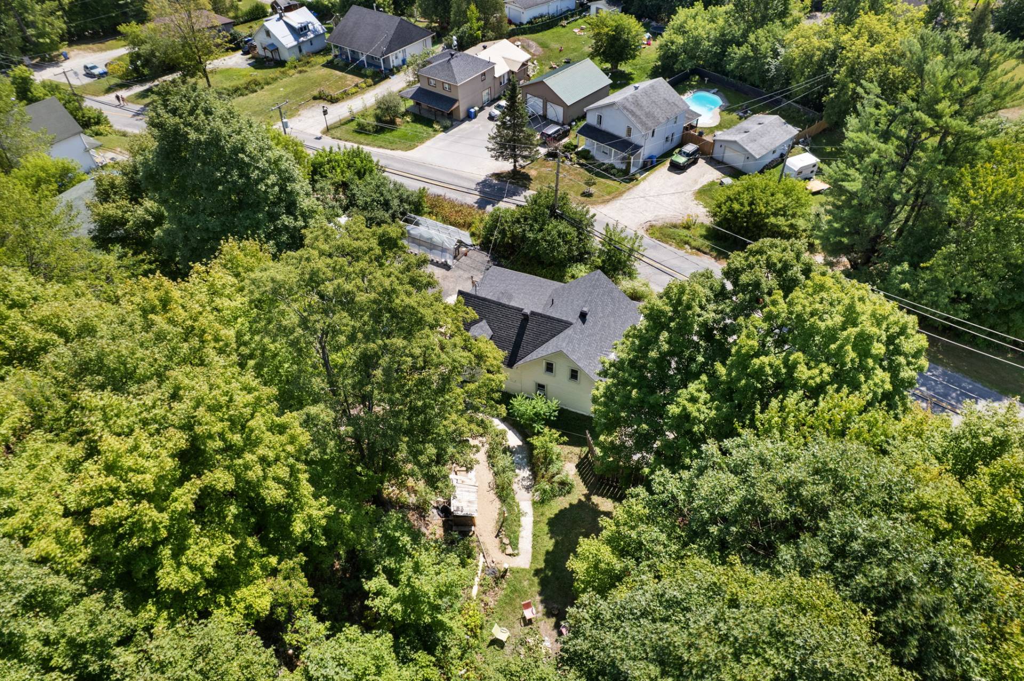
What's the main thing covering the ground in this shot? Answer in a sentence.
What you mostly see from above here is trees.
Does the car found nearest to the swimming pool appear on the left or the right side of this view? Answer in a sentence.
The car found nearest to the swimming pool is on the right side of the image.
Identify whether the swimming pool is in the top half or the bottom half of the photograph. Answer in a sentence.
The swimming pool is in the top half of the image.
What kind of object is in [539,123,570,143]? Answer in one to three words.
car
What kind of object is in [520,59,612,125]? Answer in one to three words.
building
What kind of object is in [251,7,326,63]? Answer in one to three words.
house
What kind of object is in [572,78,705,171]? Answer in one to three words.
house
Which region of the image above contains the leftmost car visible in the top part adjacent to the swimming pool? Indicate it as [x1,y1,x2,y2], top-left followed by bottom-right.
[670,143,705,171]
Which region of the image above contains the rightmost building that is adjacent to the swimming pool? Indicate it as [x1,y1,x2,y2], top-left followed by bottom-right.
[712,115,796,172]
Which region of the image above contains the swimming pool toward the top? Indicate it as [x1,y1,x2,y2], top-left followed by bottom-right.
[682,88,725,127]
